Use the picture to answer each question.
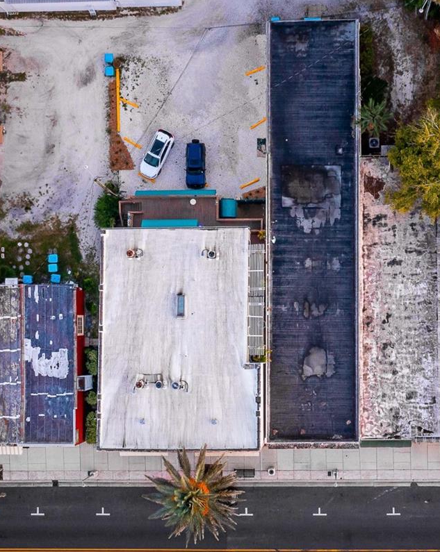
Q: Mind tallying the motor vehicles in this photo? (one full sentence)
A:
In total, there are 2 motor vehicles in the scene.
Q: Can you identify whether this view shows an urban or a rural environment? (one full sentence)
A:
From above, the setting appears urban.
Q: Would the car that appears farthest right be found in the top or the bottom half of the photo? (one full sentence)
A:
The car that appears farthest right sits in the top half of the picture.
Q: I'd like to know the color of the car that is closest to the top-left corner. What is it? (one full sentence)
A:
The car that is closest to the top-left corner is white.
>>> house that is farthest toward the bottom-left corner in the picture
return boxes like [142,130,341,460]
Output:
[0,284,88,447]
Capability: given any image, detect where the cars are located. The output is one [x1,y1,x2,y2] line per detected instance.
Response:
[181,138,205,188]
[138,124,175,181]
